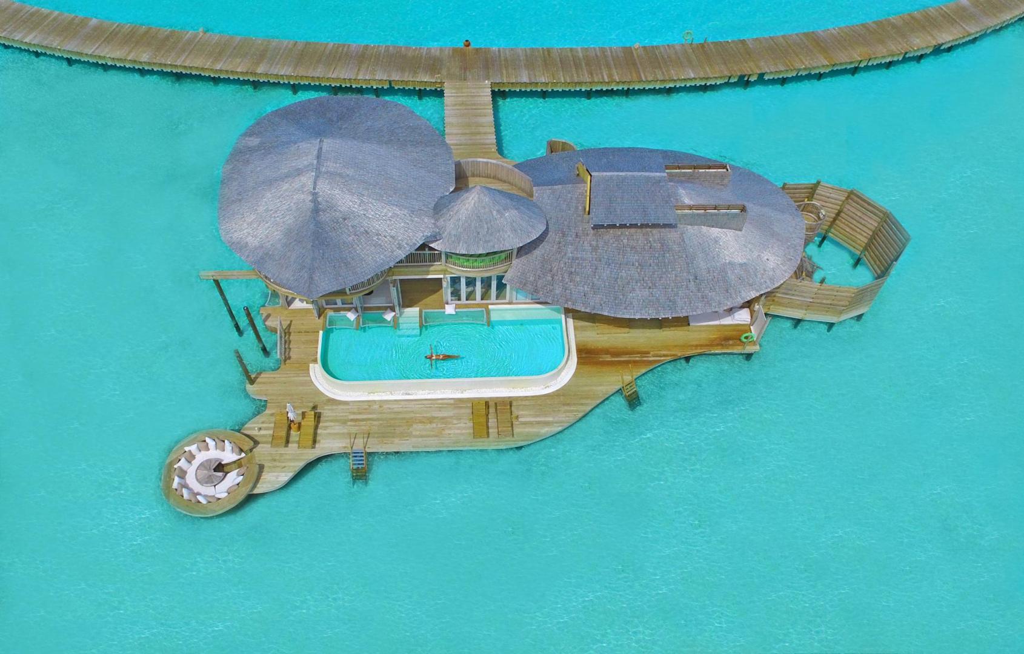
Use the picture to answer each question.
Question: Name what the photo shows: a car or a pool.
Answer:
pool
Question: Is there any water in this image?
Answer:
Yes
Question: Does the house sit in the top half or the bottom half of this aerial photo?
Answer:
top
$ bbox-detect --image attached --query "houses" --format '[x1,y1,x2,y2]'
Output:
[218,94,806,320]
